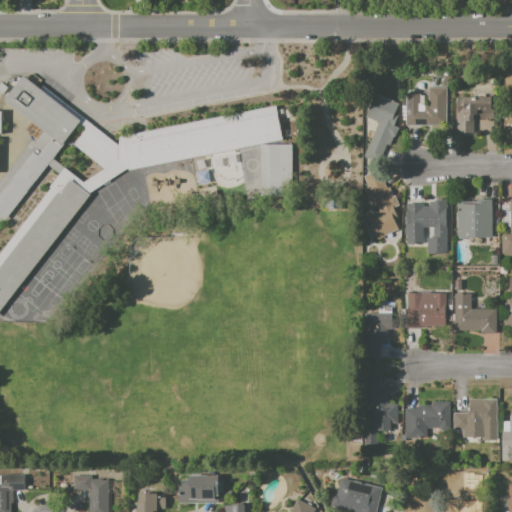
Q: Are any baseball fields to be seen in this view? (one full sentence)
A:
Yes, a baseball field is visible in the scene.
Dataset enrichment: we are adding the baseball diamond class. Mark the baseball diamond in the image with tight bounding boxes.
[127,232,208,308]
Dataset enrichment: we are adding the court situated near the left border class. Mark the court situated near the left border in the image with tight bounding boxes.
[0,158,195,321]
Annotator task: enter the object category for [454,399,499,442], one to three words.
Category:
house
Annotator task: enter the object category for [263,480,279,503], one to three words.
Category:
swimming pool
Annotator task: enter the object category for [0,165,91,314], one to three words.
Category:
building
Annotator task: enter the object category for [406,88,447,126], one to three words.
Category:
house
